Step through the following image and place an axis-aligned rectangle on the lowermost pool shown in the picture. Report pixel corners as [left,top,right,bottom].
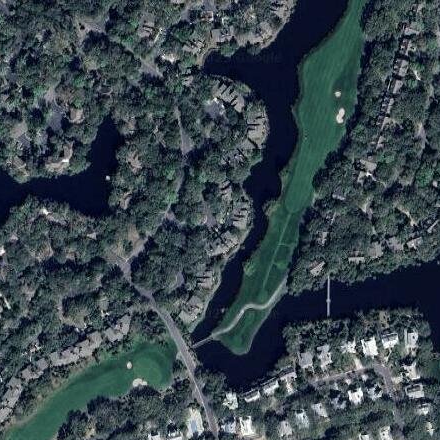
[186,407,203,436]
